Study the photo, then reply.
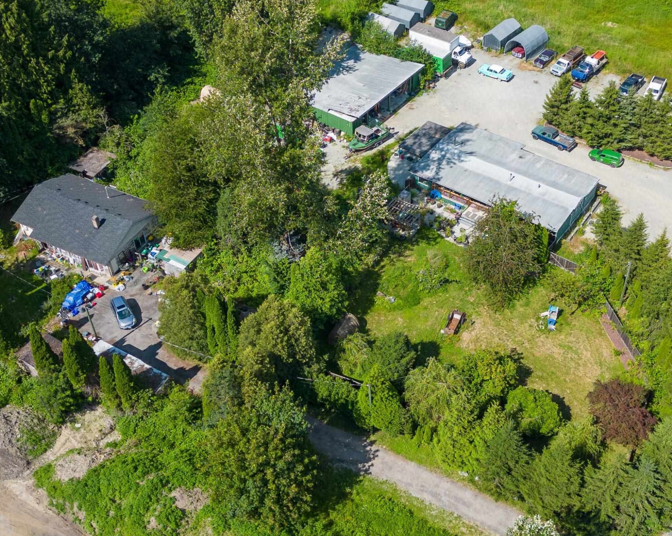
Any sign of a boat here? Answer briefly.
Yes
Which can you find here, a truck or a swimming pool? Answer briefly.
truck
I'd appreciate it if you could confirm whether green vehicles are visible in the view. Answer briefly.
Yes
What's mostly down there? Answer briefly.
trees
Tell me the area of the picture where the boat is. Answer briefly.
top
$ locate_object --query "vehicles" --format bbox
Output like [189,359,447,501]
[619,74,644,96]
[533,50,557,67]
[433,7,456,31]
[567,47,612,86]
[645,77,667,100]
[509,41,524,60]
[410,24,479,70]
[529,125,578,150]
[549,39,588,76]
[587,149,624,168]
[476,63,515,83]
[110,295,136,333]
